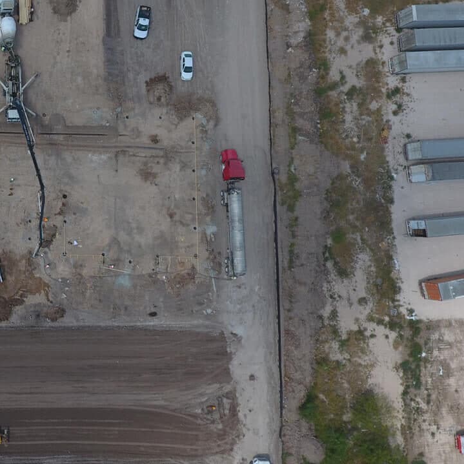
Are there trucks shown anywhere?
Yes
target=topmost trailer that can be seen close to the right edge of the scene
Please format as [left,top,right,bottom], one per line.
[396,4,464,27]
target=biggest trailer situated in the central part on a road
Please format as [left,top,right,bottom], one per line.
[225,192,247,278]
